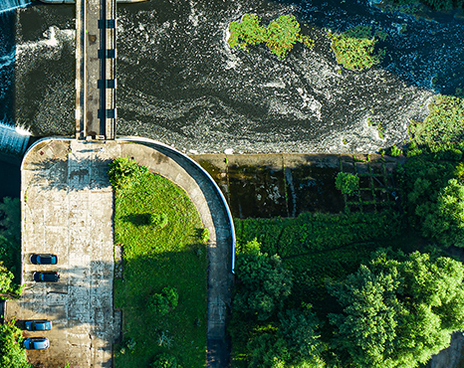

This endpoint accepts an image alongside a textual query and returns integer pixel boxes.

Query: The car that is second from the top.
[33,270,60,283]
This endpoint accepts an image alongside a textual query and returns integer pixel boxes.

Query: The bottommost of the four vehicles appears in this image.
[23,337,50,351]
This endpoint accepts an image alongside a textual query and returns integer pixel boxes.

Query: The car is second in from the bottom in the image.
[25,319,52,332]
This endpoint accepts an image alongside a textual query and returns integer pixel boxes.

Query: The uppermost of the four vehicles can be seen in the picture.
[31,253,57,266]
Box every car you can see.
[23,337,50,351]
[25,319,52,332]
[31,253,57,266]
[33,270,60,283]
